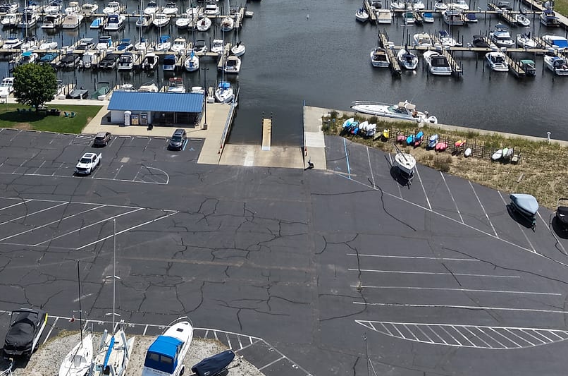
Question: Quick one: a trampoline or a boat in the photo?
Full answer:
I can see a boat in this picture.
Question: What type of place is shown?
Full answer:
The picture captures a parking lot.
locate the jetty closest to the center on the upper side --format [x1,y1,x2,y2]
[260,110,272,150]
